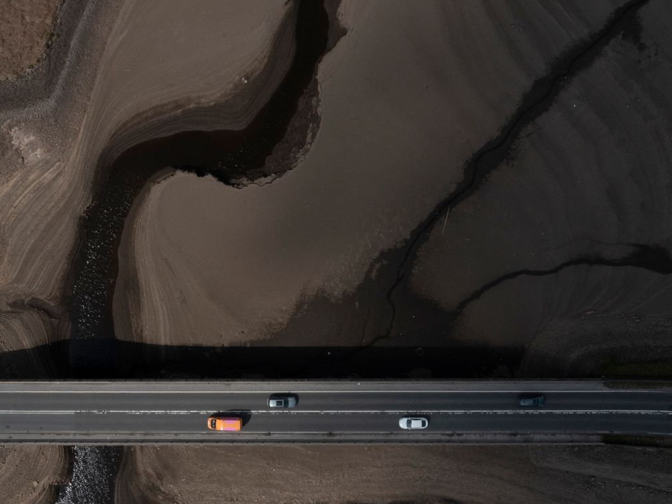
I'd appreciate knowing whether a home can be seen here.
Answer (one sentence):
No, no home is visible in the view.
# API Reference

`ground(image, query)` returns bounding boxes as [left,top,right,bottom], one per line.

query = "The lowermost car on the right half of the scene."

[398,417,427,430]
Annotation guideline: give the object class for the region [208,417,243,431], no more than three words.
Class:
vehicle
